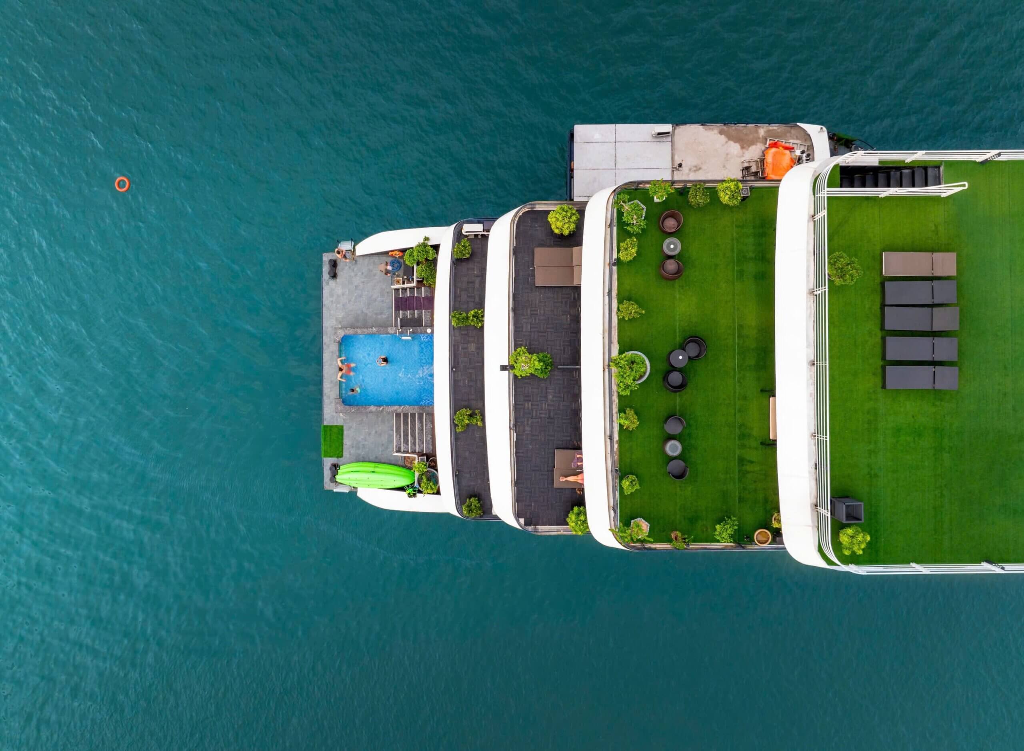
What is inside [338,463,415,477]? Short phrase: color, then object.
green boat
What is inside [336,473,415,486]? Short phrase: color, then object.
green boat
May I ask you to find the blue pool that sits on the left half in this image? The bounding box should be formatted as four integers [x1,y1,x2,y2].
[334,319,434,413]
